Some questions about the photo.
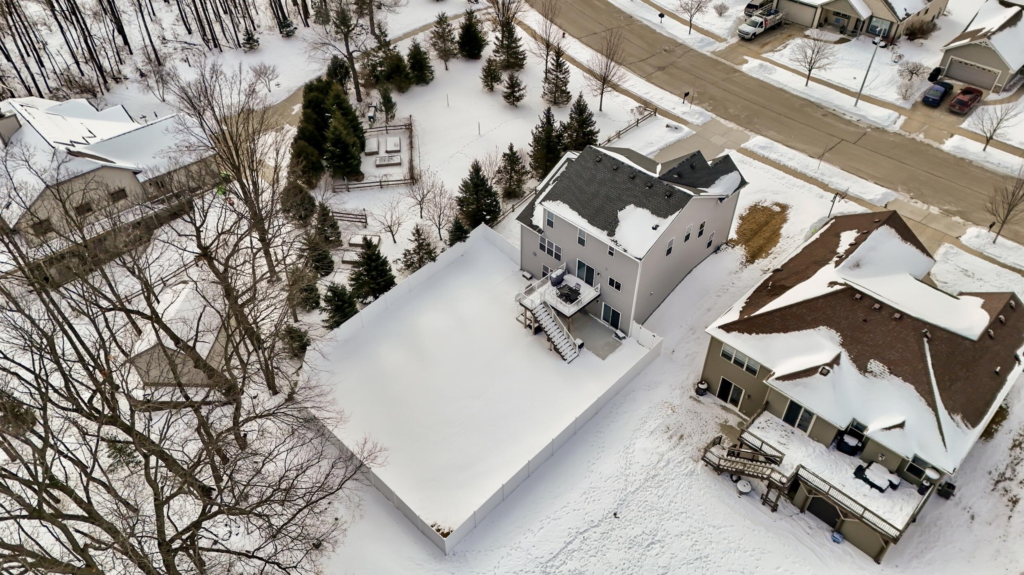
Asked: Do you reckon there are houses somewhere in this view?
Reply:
Yes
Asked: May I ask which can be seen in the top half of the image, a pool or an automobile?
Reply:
automobile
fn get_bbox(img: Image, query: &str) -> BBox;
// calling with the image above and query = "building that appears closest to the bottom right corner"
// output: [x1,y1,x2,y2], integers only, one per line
[698,206,1024,553]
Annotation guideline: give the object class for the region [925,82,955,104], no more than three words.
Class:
car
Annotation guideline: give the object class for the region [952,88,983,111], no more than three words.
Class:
car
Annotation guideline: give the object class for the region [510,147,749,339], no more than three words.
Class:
house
